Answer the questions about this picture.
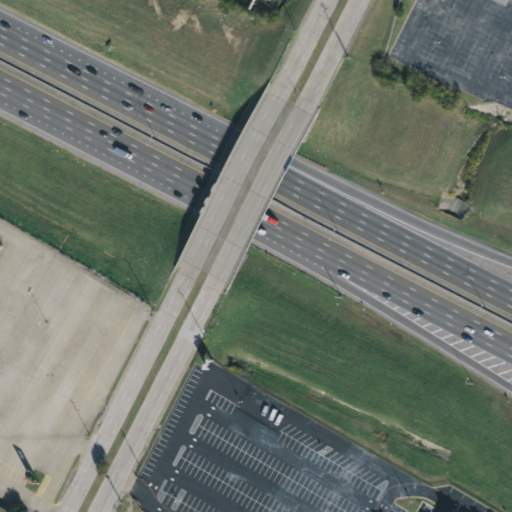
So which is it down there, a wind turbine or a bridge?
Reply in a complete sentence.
This aerial view contains a bridge.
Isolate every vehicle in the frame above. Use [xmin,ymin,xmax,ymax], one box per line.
[161,104,172,112]
[122,100,133,108]
[463,334,474,342]
[484,329,494,336]
[262,406,269,416]
[114,146,133,158]
[263,215,279,226]
[0,22,11,30]
[412,308,423,316]
[173,190,184,198]
[18,111,29,119]
[276,414,284,426]
[192,113,202,122]
[464,326,475,334]
[112,129,123,137]
[256,228,268,237]
[144,104,154,112]
[42,35,53,43]
[86,66,98,74]
[130,85,143,94]
[270,409,277,422]
[68,66,81,74]
[338,270,350,278]
[99,131,110,139]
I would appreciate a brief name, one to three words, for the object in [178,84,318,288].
bridge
